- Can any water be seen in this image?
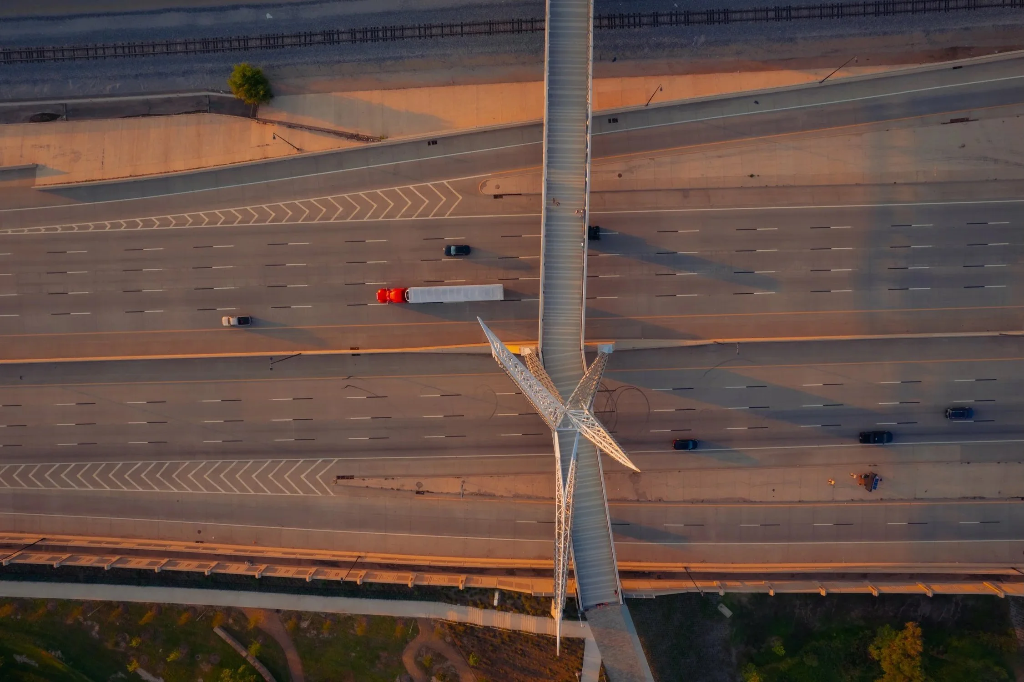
No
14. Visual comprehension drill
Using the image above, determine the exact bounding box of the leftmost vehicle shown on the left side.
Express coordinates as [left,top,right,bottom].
[223,314,253,328]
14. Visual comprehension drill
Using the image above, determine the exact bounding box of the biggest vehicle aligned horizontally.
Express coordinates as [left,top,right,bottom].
[376,284,504,305]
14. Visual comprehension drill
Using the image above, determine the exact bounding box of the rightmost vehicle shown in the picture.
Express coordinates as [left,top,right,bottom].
[942,407,972,420]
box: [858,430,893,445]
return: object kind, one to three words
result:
vehicle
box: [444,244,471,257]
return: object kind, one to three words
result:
vehicle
